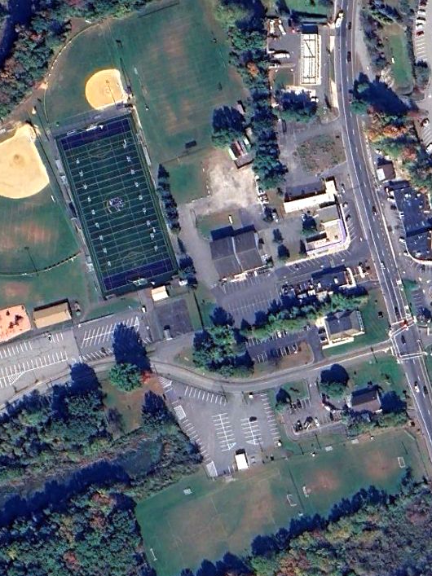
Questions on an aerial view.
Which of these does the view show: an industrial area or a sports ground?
sports ground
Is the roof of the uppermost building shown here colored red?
No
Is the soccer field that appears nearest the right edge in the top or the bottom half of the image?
bottom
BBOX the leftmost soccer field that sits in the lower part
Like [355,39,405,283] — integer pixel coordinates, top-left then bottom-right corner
[135,461,300,576]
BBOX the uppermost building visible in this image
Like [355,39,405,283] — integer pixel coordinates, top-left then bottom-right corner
[300,33,321,86]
